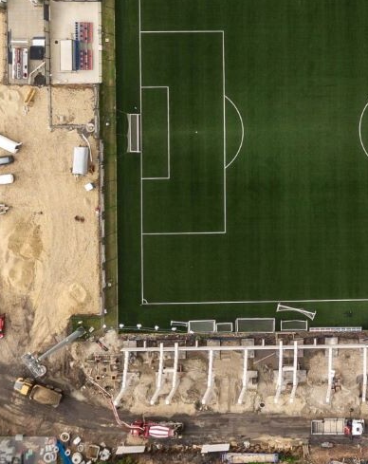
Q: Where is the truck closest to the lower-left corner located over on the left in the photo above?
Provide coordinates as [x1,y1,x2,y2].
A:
[11,376,67,408]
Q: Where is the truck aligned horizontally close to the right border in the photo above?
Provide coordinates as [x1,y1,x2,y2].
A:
[310,413,365,437]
